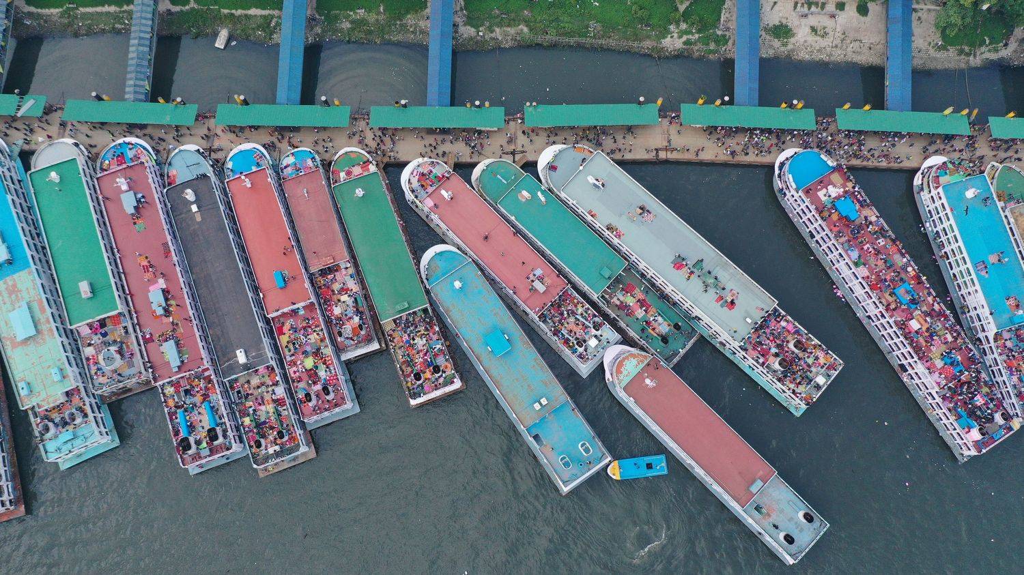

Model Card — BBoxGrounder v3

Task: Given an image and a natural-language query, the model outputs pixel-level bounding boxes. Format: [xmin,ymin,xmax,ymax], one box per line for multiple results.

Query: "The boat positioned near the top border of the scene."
[214,28,228,49]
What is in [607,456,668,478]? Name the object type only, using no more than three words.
boat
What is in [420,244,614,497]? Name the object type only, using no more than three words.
ship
